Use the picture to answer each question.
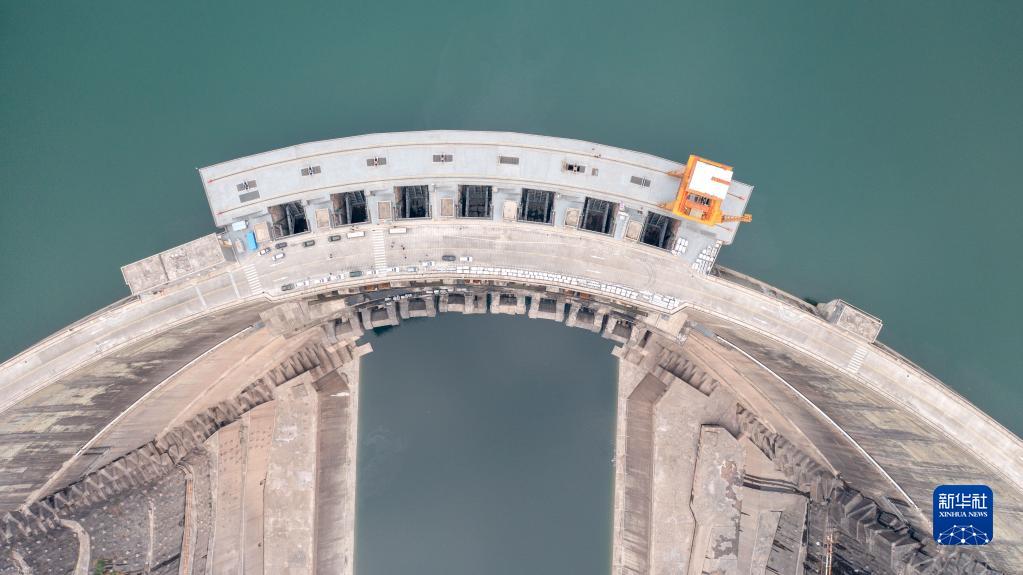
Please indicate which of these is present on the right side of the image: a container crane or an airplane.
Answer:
container crane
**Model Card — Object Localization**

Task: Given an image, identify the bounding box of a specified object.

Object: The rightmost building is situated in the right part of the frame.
[822,299,883,343]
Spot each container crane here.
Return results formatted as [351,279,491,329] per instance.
[650,155,751,223]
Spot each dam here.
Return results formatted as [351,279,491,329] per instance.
[0,223,1023,575]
